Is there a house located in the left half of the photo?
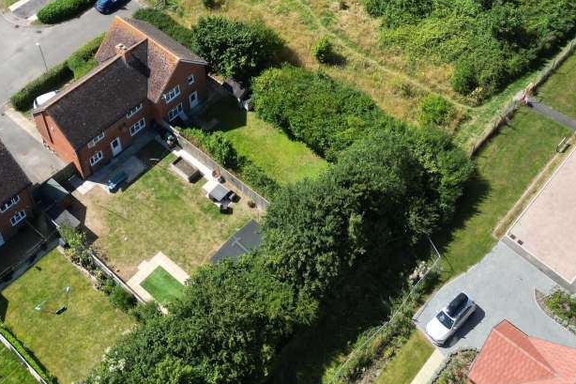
Yes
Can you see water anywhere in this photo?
No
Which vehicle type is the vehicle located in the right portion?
car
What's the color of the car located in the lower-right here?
white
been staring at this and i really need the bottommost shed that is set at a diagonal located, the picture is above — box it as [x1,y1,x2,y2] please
[211,220,264,271]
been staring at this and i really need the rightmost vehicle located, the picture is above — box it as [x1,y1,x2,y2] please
[423,288,480,347]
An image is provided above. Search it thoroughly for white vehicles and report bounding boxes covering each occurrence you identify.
[26,88,65,123]
[423,288,480,347]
